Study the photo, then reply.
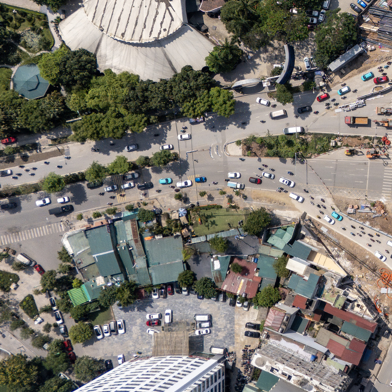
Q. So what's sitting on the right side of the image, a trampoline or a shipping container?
shipping container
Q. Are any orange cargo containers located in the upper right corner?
No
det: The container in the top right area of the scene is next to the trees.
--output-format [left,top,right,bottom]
[328,45,367,72]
